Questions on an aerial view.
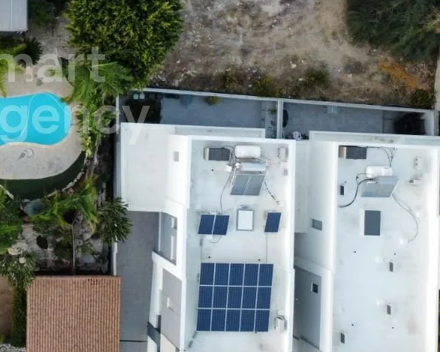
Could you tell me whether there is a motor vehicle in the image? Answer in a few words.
No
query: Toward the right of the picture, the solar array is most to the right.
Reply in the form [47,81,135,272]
[264,211,282,232]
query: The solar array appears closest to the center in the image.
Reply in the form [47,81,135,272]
[197,214,229,235]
